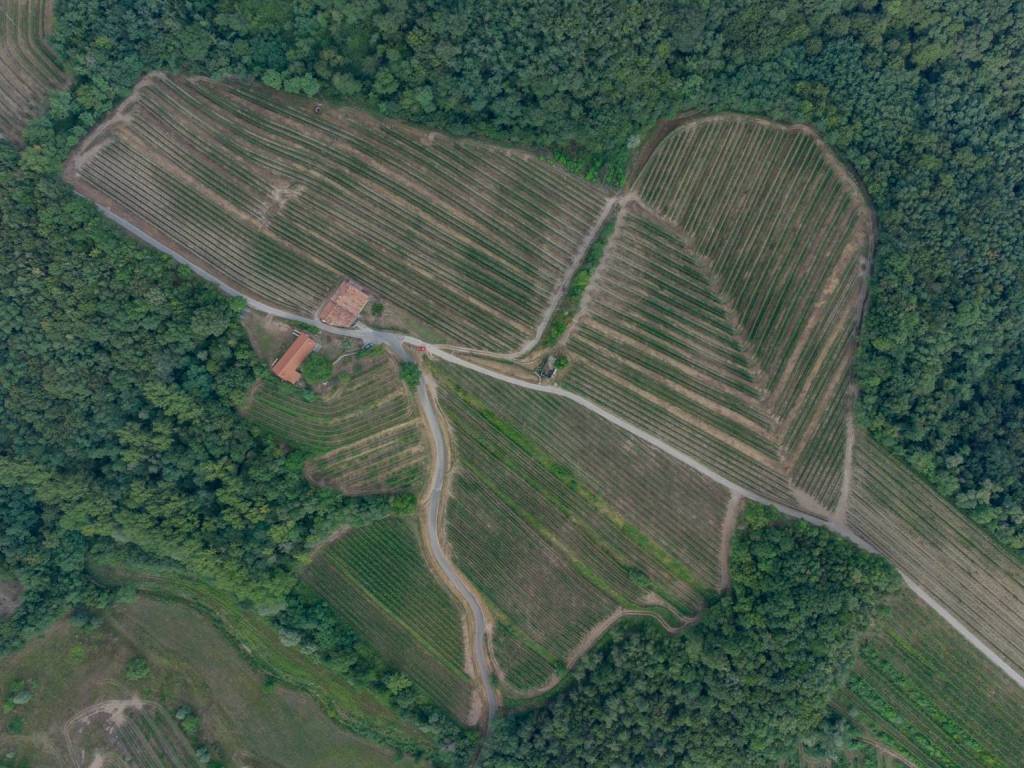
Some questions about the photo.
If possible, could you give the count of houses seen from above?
2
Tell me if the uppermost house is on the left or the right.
left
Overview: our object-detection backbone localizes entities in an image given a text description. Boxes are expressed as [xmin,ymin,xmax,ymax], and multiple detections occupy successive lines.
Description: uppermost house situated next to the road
[324,278,368,329]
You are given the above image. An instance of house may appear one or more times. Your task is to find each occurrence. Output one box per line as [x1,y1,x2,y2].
[324,278,368,329]
[273,332,317,386]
